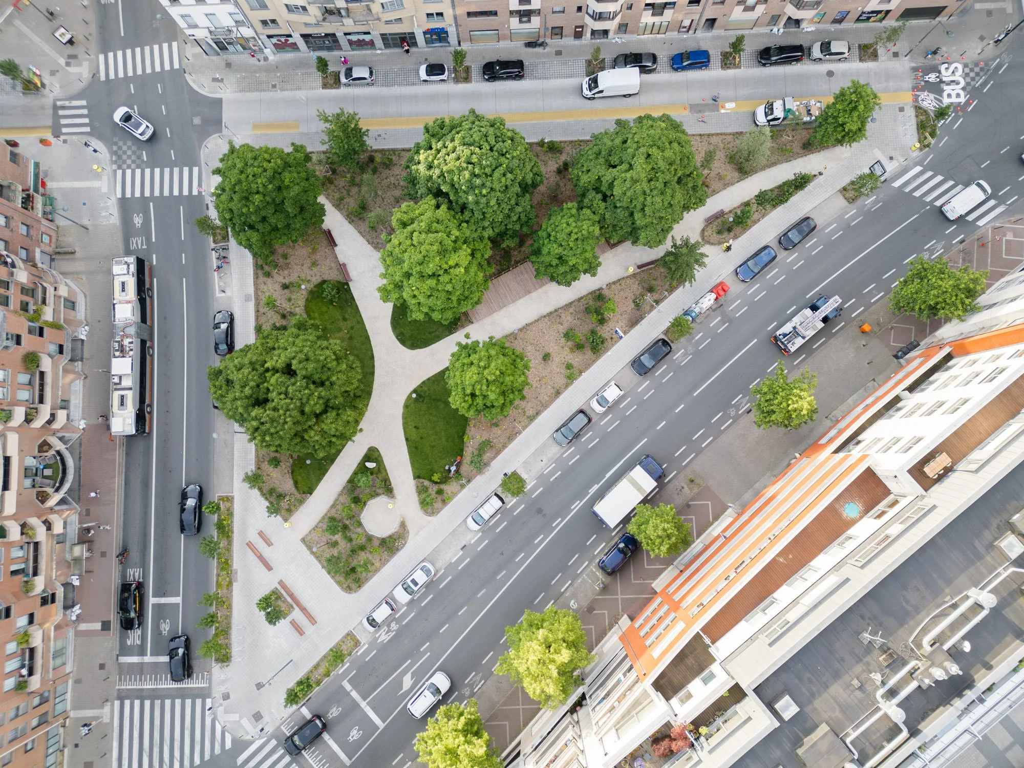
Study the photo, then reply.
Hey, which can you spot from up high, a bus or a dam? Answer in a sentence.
Of the two, only a bus appears.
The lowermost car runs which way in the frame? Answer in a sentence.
In this picture, the lowermost car lies at an angle.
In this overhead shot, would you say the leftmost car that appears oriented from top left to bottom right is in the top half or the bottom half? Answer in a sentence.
The top half of the photo is where the leftmost car that appears oriented from top left to bottom right is.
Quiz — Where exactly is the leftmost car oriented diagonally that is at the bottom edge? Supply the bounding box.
[283,711,330,757]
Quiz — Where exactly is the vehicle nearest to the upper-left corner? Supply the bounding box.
[114,104,158,148]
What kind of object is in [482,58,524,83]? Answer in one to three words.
car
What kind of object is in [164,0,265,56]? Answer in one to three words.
house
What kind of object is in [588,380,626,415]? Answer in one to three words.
car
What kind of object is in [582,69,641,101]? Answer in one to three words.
van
